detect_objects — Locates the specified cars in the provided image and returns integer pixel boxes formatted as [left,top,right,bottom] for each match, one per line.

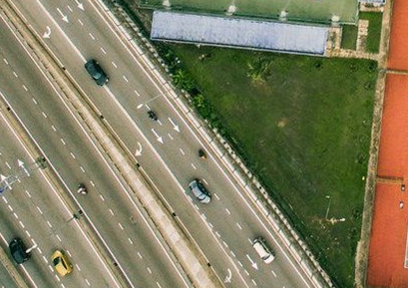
[7,236,27,267]
[186,177,211,205]
[83,59,108,87]
[52,250,71,278]
[250,238,274,265]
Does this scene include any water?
No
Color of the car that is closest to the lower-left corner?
black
